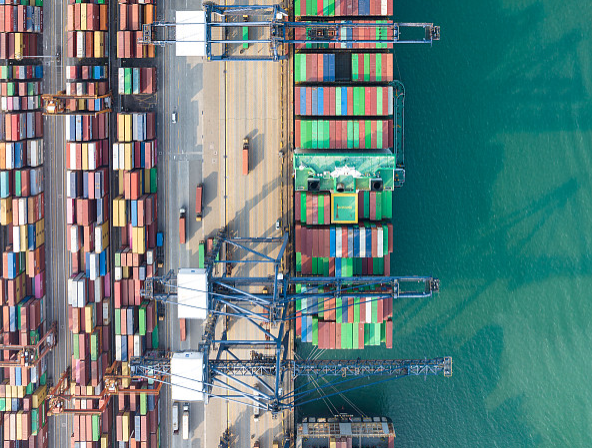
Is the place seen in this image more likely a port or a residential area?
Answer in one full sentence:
The area seen from above is a port.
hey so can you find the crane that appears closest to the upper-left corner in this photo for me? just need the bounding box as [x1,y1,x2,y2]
[39,89,115,117]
